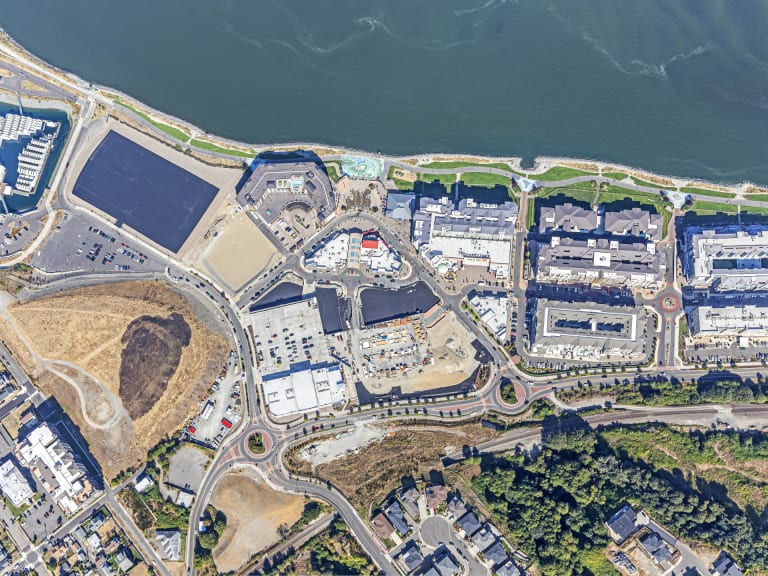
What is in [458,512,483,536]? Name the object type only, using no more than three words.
house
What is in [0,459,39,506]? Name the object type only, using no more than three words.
building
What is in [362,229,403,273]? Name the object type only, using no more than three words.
building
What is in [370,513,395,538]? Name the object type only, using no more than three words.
house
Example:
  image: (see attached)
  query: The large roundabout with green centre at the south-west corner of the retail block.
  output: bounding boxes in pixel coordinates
[236,422,278,464]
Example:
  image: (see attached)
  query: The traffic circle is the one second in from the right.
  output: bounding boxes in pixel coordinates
[489,371,532,415]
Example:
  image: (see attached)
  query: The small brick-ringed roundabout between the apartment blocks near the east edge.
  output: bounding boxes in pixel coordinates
[654,284,687,317]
